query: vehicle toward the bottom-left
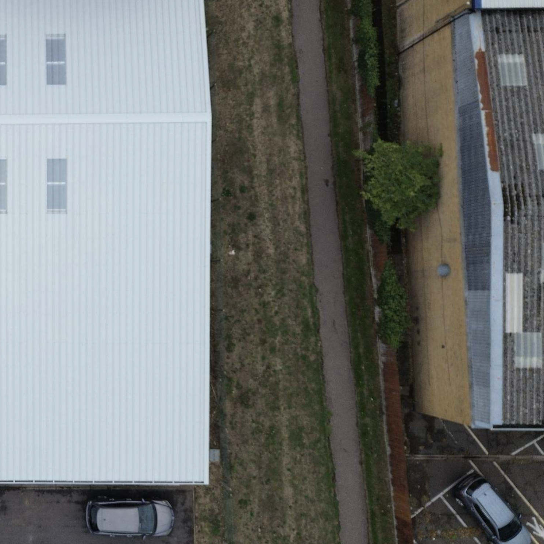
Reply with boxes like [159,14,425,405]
[84,496,174,544]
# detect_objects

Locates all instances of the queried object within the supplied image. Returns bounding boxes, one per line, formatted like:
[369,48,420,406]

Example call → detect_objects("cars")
[451,465,531,544]
[84,496,174,544]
